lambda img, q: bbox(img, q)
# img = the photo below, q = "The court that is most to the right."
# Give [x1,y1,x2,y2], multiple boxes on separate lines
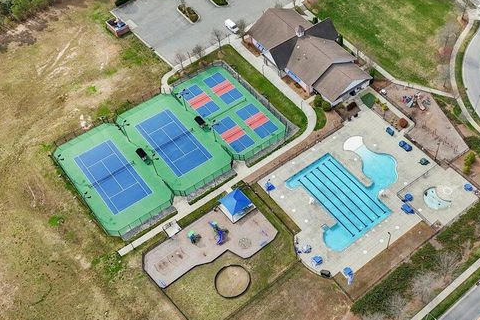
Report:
[236,103,279,139]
